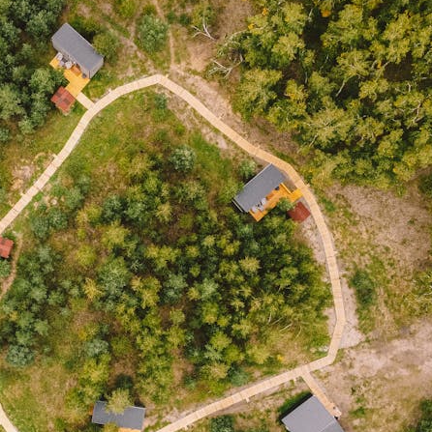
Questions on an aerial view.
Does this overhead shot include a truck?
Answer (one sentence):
No, the photo shows no truck.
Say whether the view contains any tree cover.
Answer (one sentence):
Yes, there is tree cover in the image.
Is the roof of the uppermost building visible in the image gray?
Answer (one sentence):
Yes, gray is the color of the roof of the uppermost building.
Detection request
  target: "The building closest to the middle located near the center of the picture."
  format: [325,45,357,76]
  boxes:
[231,163,286,214]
